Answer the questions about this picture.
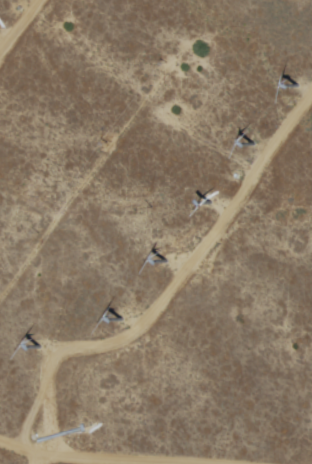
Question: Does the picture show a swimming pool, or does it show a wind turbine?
wind turbine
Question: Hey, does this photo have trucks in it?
No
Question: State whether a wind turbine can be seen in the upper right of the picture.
Yes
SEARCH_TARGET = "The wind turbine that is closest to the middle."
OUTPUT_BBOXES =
[138,252,168,276]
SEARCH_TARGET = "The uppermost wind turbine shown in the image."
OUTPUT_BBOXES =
[272,73,300,101]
